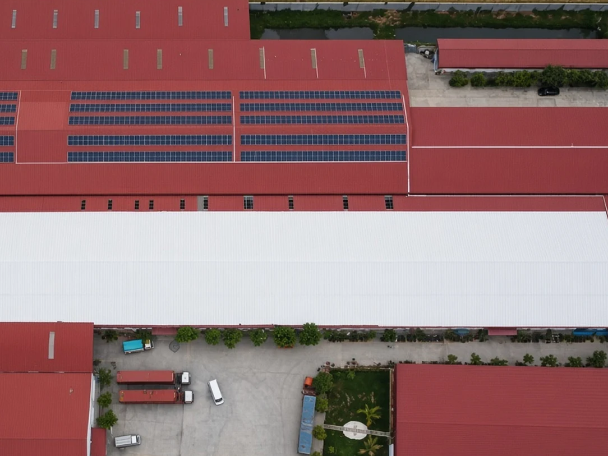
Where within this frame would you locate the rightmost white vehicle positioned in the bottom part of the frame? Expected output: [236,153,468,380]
[207,379,223,407]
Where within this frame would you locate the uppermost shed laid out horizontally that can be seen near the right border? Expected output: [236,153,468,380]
[432,39,608,74]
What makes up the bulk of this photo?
buildings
